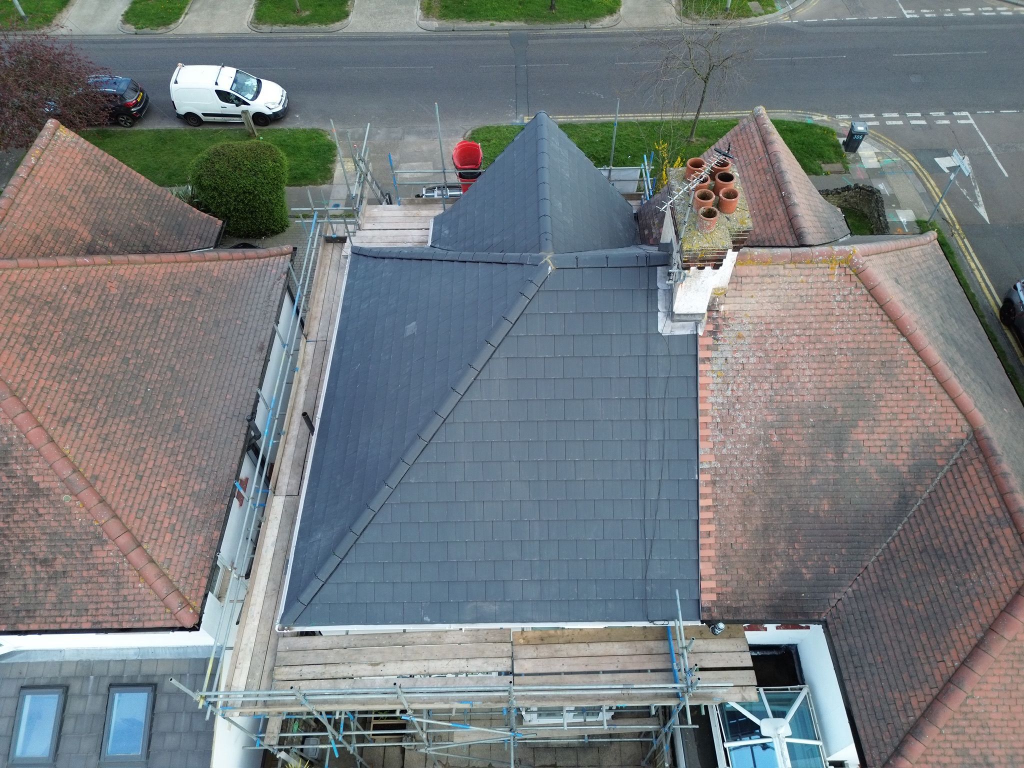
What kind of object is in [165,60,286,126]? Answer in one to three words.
van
